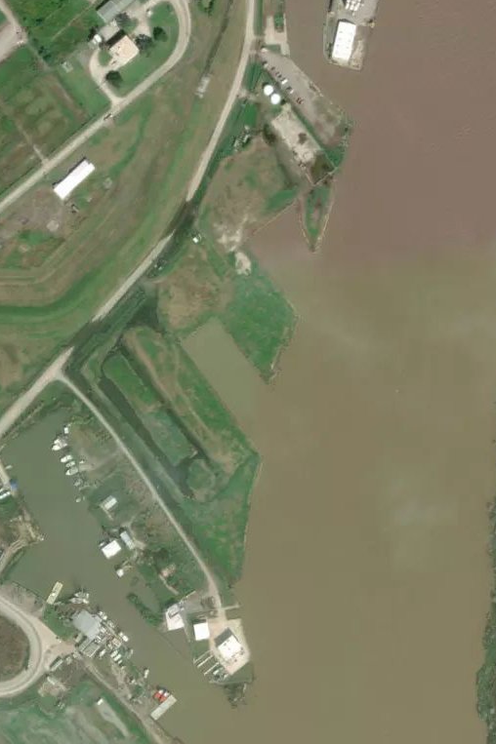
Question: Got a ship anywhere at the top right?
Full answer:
No, there is no ship at the top right.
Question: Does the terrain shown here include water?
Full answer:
Yes, there's water in this view.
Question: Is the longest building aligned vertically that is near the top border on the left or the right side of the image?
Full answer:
The longest building aligned vertically that is near the top border is on the right side of the image.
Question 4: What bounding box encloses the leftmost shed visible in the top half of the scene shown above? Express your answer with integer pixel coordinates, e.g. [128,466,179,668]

[54,160,94,198]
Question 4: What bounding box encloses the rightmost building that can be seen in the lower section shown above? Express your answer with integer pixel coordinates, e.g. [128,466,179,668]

[217,635,242,661]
